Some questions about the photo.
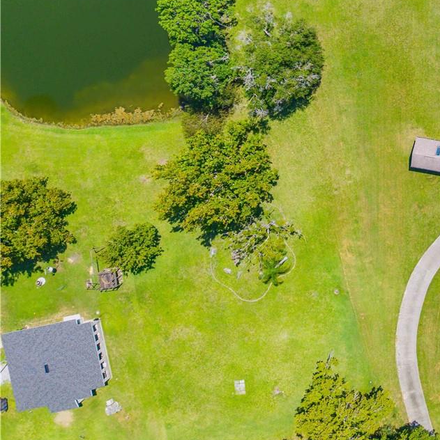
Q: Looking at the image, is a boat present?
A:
No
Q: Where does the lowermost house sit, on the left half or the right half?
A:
left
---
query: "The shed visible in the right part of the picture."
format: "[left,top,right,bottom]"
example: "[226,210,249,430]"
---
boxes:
[411,138,440,171]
